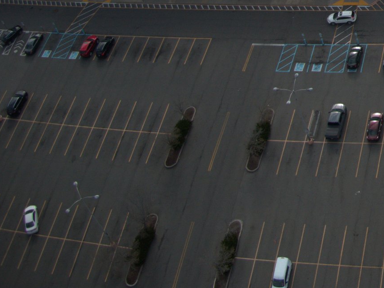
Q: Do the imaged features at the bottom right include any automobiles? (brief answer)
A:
Yes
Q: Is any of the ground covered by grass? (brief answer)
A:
No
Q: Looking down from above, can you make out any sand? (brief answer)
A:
No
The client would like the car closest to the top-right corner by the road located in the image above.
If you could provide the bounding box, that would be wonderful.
[325,11,359,27]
